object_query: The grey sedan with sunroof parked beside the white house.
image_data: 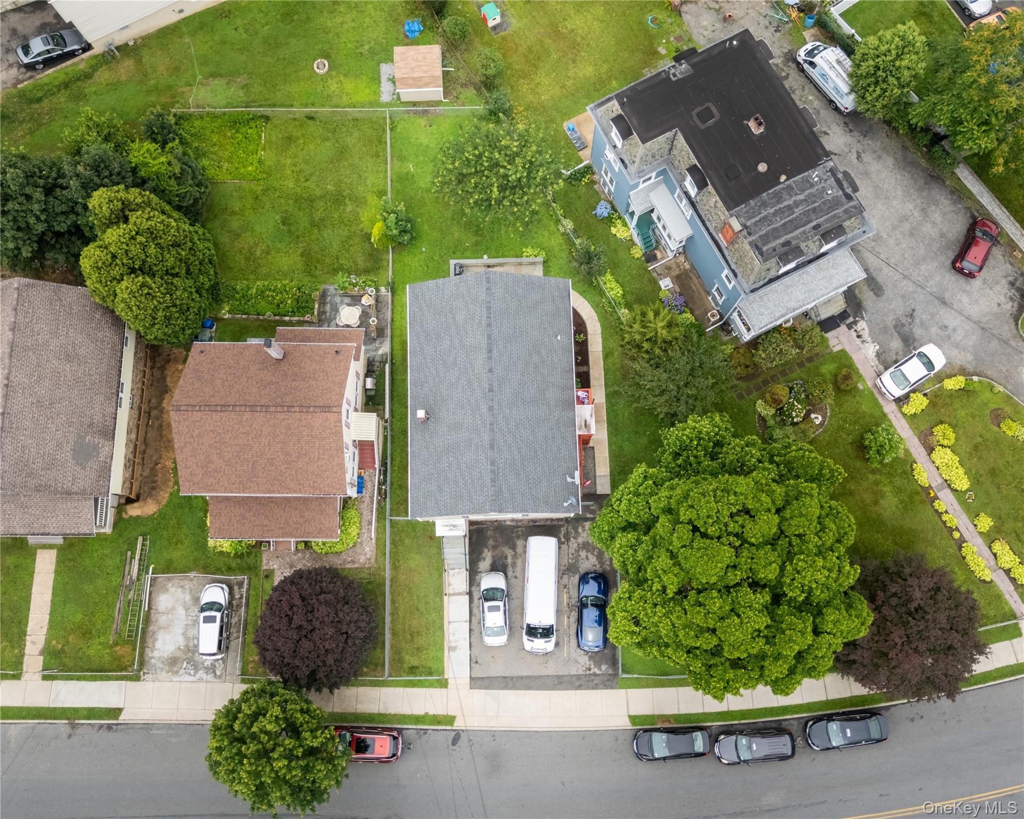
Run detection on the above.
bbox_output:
[16,27,88,72]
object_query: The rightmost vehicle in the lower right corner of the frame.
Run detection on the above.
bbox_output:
[804,711,890,752]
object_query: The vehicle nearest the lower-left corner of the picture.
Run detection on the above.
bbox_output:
[196,583,235,660]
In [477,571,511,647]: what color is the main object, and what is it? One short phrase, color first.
white car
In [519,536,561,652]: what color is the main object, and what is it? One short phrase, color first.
white van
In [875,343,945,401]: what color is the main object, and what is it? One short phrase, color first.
white car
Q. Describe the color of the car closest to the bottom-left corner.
white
